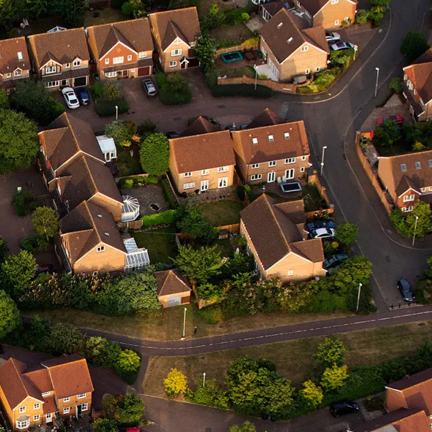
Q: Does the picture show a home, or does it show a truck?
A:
home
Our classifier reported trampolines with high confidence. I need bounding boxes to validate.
[221,50,244,63]
[280,181,302,194]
